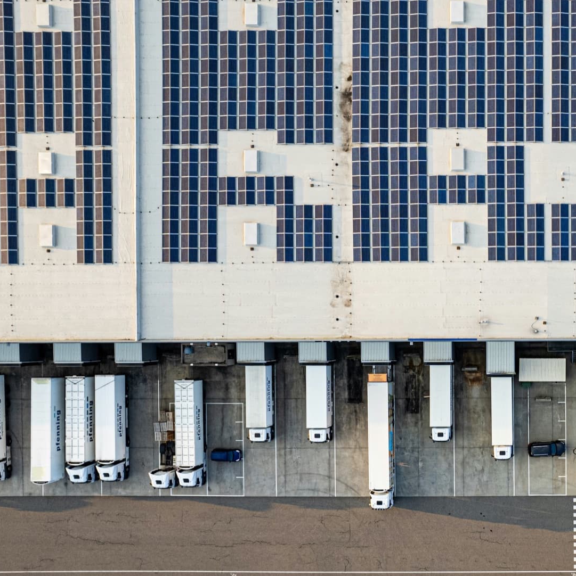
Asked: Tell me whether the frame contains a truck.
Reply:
Yes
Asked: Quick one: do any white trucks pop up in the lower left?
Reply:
Yes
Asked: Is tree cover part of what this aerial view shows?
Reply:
No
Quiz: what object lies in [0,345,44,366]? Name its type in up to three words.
house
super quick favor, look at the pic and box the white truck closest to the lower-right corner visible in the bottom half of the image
[490,378,515,460]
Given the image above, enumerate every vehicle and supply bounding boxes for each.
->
[307,365,334,443]
[95,374,132,481]
[528,441,566,458]
[208,448,242,464]
[64,376,101,483]
[173,379,208,487]
[490,378,515,460]
[0,374,14,481]
[148,440,181,489]
[246,361,276,442]
[429,365,455,442]
[368,366,395,508]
